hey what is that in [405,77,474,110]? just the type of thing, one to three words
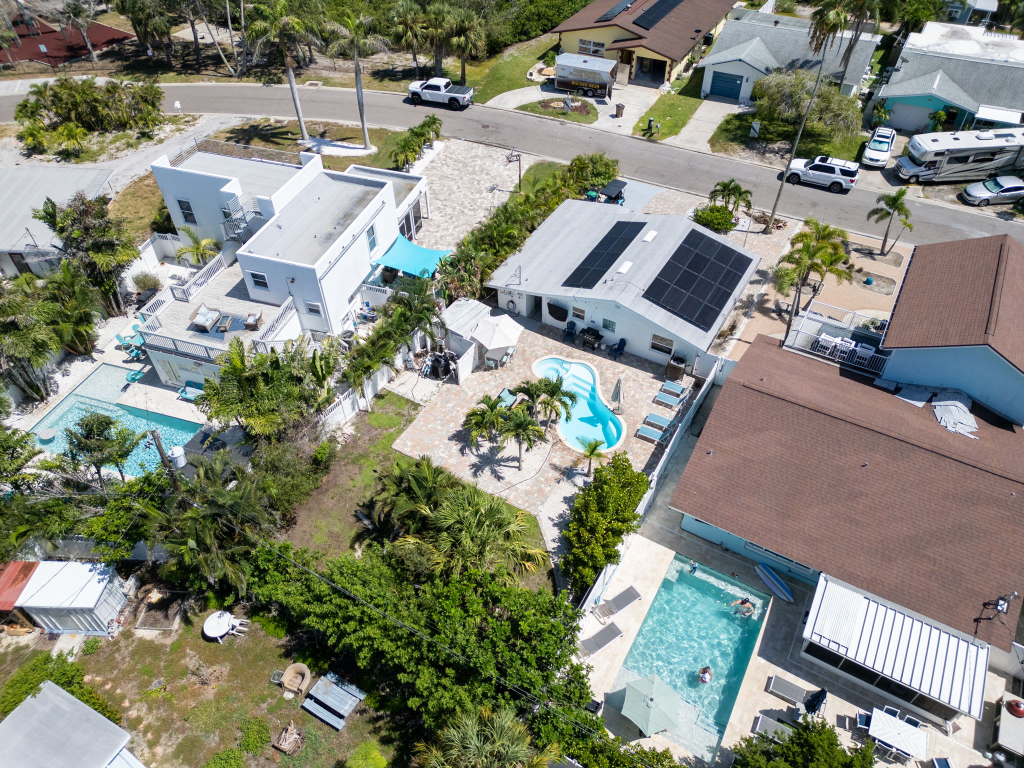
truck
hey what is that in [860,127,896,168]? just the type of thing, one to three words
car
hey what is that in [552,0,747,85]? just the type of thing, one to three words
house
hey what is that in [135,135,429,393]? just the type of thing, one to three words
house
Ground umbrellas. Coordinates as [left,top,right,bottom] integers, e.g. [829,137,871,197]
[472,314,524,351]
[795,687,835,730]
[621,673,681,736]
[611,377,627,416]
